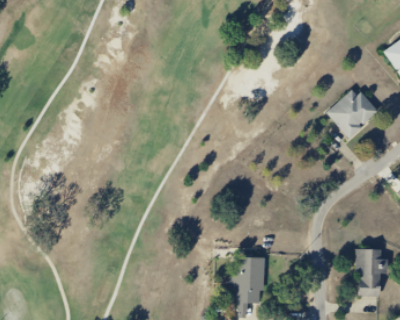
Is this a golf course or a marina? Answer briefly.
golf course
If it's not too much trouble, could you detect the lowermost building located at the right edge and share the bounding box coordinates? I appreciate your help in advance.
[356,249,389,296]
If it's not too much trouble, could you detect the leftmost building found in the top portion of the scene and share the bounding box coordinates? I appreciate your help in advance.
[328,90,378,138]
